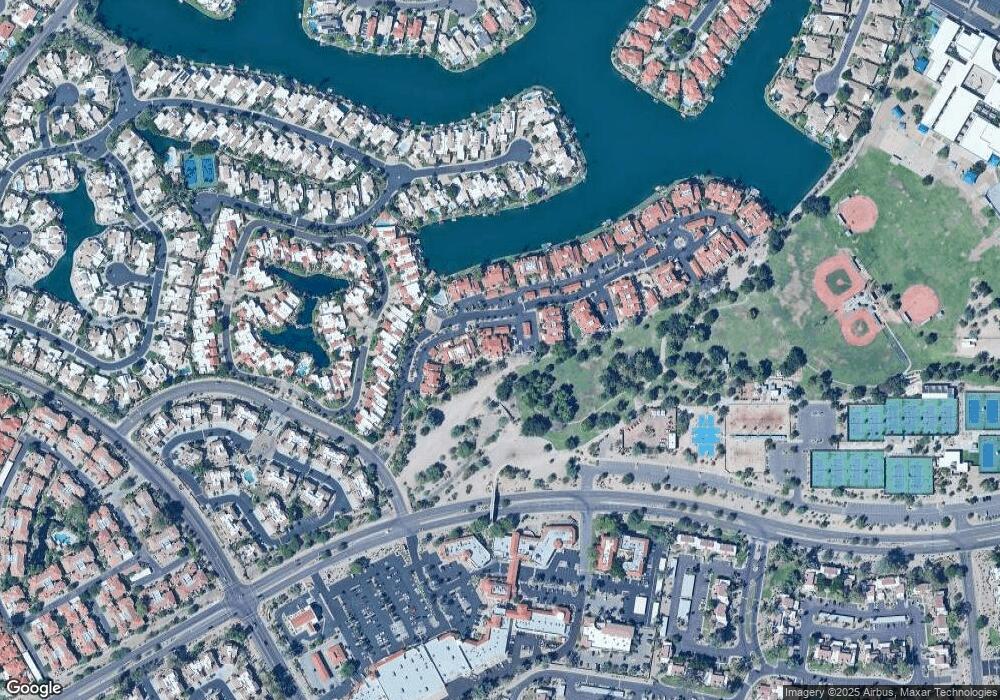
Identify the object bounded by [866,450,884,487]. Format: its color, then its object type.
blue tennis court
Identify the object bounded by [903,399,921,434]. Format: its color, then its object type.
blue tennis court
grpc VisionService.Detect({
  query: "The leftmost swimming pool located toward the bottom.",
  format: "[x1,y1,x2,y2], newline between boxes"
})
[51,527,75,549]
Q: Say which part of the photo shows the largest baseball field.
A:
right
